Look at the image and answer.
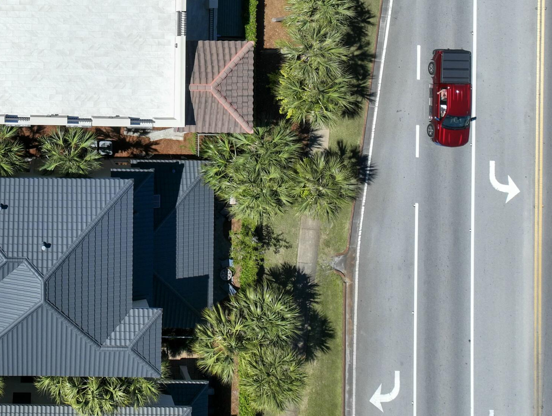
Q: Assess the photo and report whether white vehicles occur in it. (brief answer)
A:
No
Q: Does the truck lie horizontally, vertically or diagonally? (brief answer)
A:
vertically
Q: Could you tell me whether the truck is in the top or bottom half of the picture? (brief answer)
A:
top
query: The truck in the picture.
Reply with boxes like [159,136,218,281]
[425,45,476,147]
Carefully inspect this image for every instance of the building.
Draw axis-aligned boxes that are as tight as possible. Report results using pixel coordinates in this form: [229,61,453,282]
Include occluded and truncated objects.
[0,158,215,381]
[0,0,256,133]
